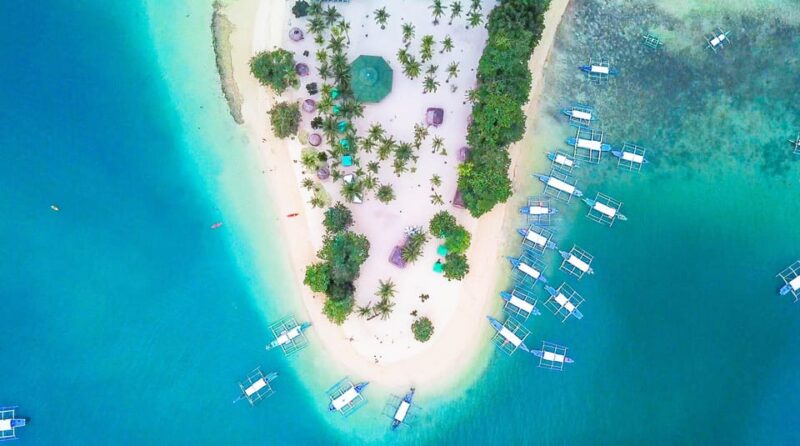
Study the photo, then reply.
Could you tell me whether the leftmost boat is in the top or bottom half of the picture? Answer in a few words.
bottom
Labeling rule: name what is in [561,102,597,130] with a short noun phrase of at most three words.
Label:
boat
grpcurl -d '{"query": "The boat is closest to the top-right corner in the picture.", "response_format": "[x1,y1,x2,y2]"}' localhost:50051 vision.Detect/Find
[700,28,733,57]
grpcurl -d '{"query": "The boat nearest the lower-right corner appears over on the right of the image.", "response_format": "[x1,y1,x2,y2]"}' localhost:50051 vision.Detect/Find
[778,258,800,301]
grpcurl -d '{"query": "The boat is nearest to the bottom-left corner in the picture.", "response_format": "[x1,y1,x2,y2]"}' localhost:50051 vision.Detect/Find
[0,402,27,444]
